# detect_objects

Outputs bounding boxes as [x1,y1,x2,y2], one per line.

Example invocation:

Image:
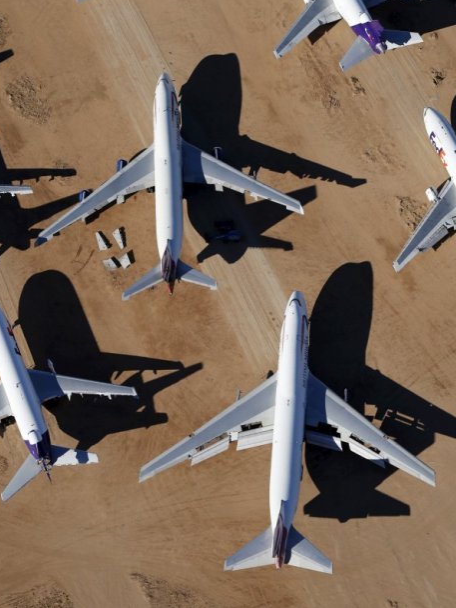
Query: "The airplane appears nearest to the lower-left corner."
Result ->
[0,310,139,502]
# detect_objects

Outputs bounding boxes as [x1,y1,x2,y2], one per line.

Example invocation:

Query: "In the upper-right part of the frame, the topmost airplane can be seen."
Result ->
[272,0,425,69]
